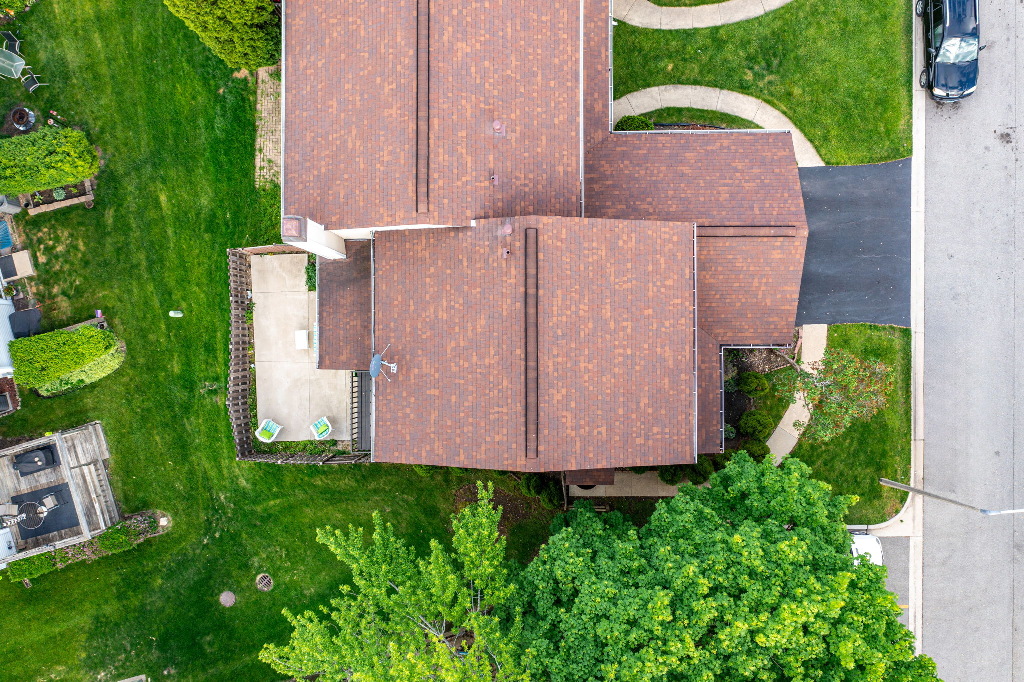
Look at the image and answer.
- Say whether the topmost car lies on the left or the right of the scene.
right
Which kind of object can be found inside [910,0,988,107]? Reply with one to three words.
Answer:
car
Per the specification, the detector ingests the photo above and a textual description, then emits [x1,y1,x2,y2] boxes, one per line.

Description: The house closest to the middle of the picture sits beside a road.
[281,0,808,485]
